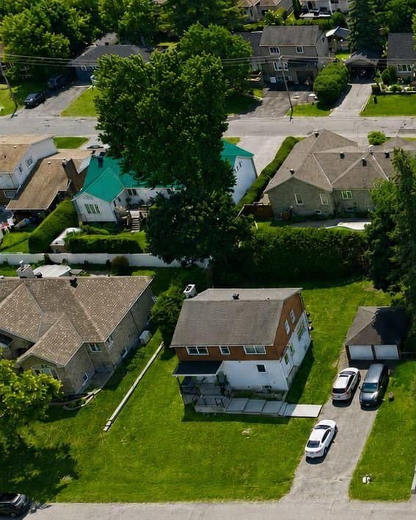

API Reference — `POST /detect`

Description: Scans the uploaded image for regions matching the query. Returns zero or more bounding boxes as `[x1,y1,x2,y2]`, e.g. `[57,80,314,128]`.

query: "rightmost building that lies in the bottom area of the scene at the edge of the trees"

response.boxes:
[340,296,416,364]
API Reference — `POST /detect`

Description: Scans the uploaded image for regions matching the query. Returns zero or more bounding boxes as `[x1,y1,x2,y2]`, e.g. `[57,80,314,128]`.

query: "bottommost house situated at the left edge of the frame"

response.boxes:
[0,264,148,390]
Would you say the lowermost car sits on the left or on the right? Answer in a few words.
left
